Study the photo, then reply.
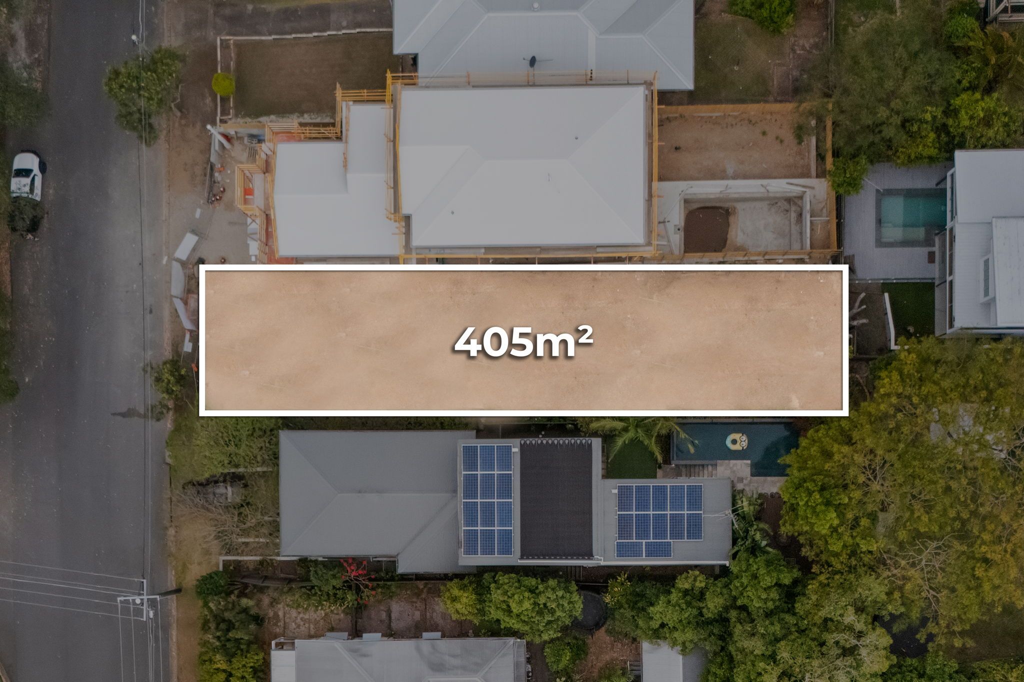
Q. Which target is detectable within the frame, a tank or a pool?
pool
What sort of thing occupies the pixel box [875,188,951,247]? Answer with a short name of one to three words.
swimming pool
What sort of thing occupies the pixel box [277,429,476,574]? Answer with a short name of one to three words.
house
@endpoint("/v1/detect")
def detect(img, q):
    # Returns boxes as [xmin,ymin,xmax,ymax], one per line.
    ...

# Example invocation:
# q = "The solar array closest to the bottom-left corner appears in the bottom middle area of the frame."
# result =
[460,445,514,556]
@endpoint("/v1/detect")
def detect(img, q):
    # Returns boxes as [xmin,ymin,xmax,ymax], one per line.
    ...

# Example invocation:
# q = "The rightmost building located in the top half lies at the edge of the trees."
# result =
[935,149,1024,333]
